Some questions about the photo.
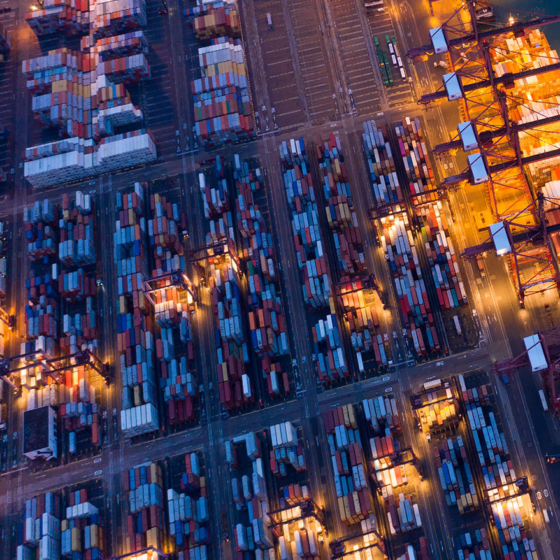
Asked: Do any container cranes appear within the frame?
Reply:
Yes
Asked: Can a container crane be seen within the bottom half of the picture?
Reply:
Yes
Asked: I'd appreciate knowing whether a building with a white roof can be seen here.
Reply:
No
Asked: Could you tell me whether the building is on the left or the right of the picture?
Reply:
left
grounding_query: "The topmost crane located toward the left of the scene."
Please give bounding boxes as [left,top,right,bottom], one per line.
[191,240,245,284]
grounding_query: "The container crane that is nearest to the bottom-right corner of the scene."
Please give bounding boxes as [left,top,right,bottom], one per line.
[481,476,534,524]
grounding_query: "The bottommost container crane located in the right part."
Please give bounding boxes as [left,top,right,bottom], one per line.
[331,528,390,560]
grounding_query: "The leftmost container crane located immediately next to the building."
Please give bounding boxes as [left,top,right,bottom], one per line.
[0,351,60,396]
